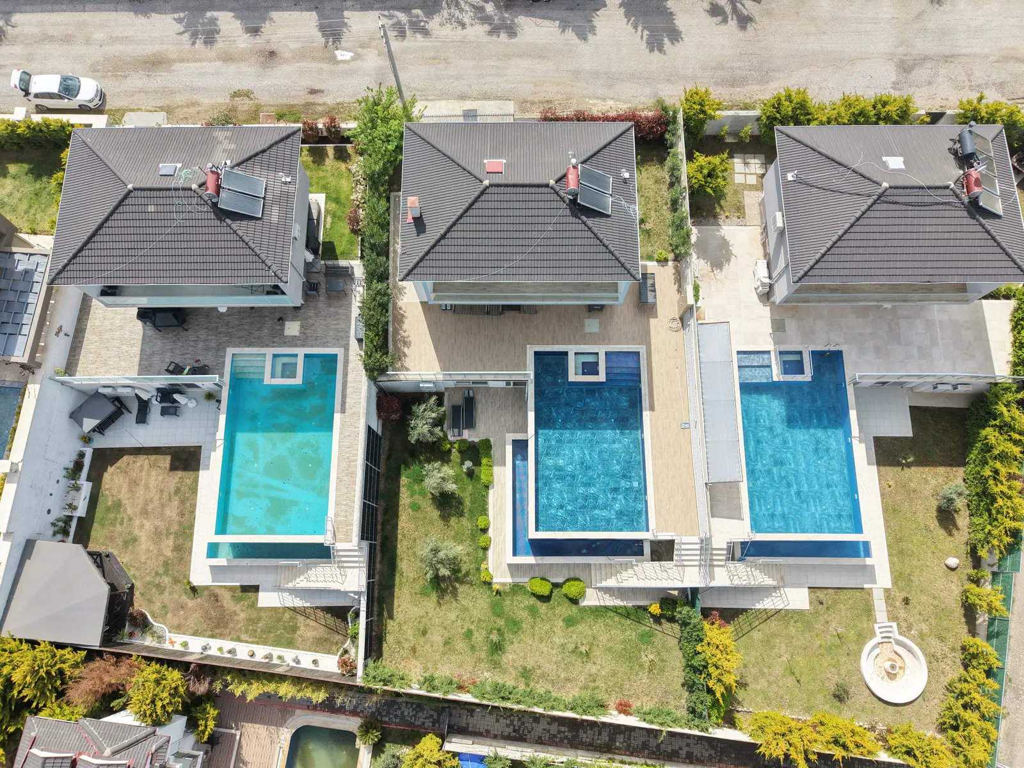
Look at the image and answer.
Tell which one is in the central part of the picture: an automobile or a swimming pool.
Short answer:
swimming pool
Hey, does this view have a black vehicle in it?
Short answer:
No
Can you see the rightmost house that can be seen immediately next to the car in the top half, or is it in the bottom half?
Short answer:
top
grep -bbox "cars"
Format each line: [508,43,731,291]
[6,68,104,114]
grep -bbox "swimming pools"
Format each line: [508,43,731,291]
[725,346,874,564]
[507,346,656,564]
[0,380,21,458]
[278,714,373,768]
[205,346,347,564]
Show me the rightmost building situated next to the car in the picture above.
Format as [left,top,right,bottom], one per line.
[41,126,311,304]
